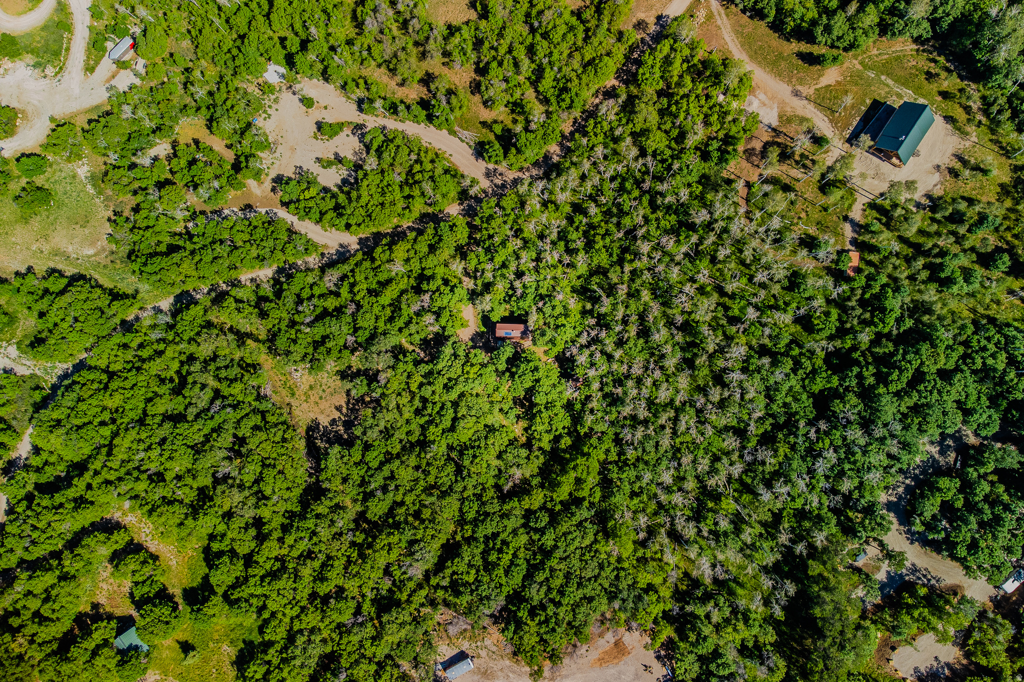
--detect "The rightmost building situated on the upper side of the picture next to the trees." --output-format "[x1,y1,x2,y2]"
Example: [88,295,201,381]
[866,99,935,174]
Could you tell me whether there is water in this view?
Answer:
No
